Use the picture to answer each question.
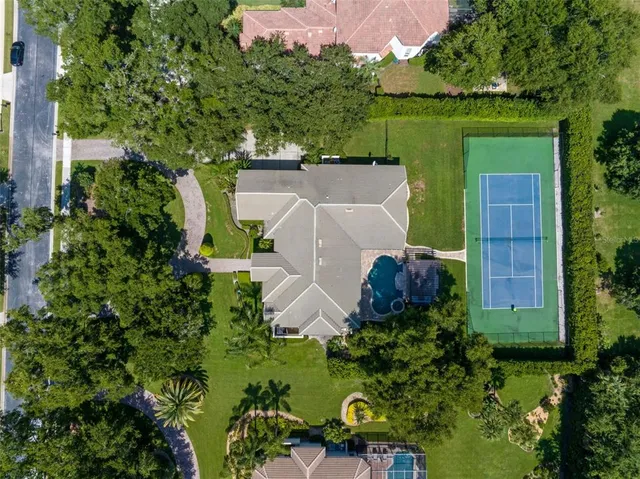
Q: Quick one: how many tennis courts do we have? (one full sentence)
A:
I count 1 tennis court.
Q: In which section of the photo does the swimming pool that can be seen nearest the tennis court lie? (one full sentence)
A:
The swimming pool that can be seen nearest the tennis court is in the center part of the image.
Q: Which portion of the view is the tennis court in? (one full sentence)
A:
The tennis court sits in the right section of the image.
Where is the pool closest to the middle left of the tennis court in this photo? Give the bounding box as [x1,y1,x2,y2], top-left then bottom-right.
[366,254,405,316]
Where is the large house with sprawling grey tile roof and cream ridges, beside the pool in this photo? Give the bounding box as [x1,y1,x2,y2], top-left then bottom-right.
[236,164,409,338]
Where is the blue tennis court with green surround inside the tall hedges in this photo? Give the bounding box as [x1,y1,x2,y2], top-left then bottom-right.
[464,136,558,344]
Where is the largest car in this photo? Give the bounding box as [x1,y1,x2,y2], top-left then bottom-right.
[11,41,27,66]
